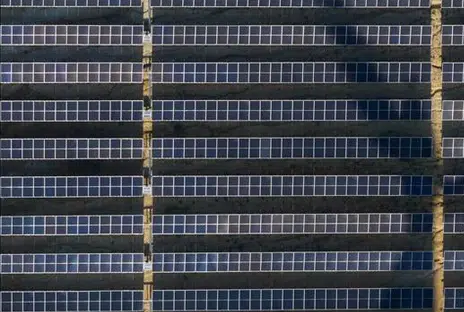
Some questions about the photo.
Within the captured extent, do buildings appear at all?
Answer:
No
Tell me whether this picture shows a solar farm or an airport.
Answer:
solar farm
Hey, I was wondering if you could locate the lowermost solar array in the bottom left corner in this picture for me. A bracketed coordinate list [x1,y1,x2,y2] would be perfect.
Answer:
[0,290,144,312]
